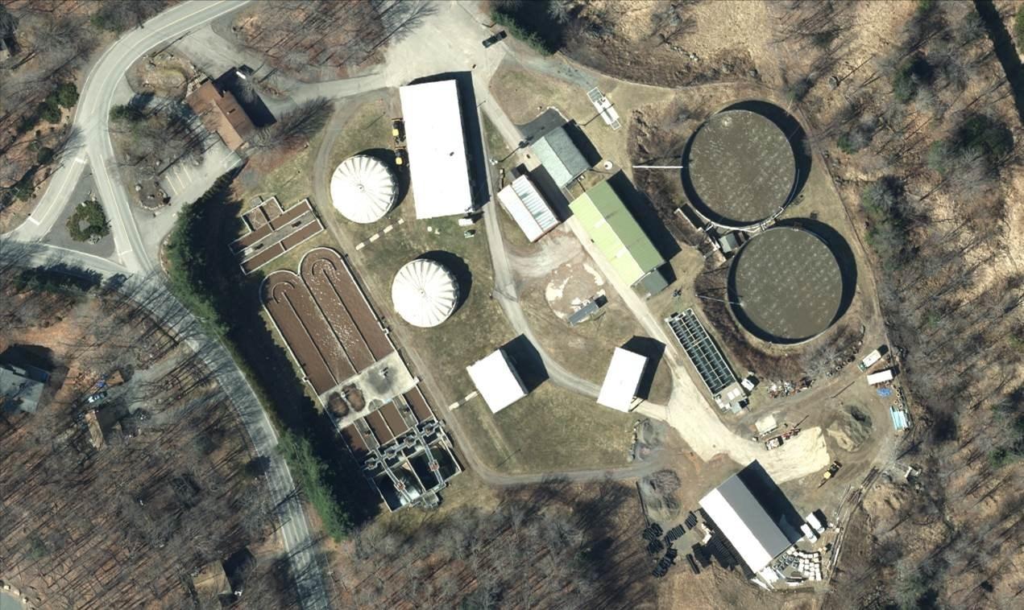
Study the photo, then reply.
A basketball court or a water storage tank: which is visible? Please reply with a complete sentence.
Looking from above, you can make out a water storage tank.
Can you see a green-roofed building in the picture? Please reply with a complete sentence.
Yes, looking at the shot, I can spot a green-roofed building.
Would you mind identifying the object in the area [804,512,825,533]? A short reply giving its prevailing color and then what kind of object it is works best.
white truck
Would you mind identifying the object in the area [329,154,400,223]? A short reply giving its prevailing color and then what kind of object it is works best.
white storage tank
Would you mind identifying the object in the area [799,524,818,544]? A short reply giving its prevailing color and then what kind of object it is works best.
white vehicle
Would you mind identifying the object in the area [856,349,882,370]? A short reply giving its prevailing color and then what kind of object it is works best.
white truck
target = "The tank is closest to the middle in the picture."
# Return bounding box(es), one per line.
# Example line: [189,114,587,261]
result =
[390,258,461,327]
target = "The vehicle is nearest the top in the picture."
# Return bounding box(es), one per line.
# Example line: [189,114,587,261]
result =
[482,31,504,46]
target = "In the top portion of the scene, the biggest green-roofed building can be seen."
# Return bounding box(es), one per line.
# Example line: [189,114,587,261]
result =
[569,180,668,286]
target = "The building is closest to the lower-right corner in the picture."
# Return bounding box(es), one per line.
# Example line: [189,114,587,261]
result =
[699,475,793,574]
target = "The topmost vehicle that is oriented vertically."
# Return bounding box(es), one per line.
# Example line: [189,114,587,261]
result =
[390,115,402,137]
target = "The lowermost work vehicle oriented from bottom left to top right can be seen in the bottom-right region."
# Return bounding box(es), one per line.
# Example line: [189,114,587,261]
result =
[815,458,843,486]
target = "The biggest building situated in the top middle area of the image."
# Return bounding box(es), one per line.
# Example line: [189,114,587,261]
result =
[400,79,475,219]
